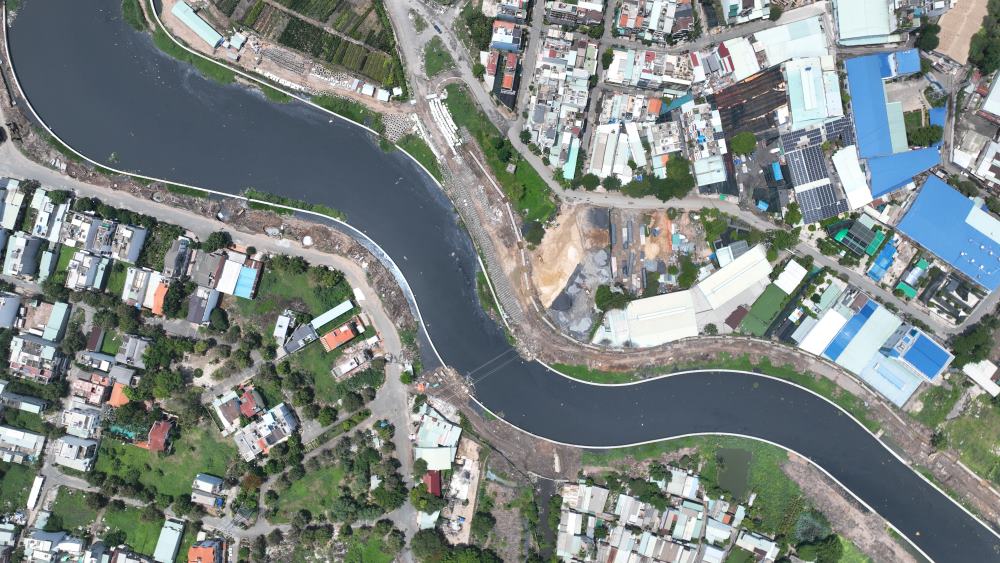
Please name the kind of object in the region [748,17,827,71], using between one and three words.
building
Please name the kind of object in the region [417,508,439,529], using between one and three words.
shed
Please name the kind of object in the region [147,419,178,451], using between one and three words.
house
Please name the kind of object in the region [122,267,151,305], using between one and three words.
house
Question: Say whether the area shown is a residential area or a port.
residential area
